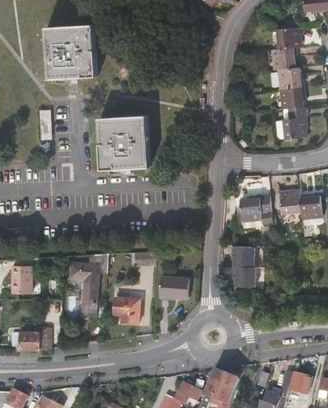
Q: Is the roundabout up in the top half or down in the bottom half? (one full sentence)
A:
The roundabout sits in the bottom half of the picture.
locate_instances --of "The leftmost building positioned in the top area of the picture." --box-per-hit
[39,109,52,140]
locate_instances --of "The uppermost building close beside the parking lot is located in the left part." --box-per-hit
[41,26,98,82]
